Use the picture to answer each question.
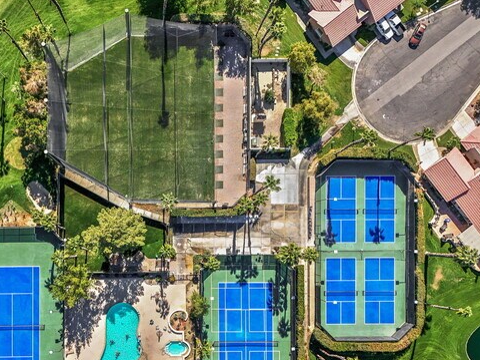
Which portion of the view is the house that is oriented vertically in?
right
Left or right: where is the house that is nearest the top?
right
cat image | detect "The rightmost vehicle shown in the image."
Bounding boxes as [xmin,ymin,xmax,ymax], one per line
[410,22,429,48]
